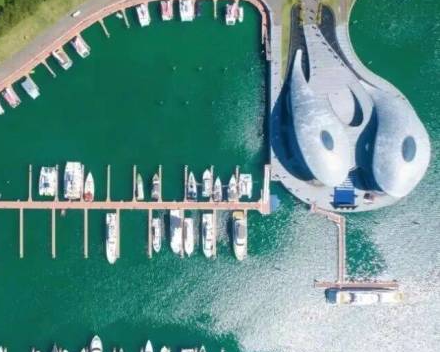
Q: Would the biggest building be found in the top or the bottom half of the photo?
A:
top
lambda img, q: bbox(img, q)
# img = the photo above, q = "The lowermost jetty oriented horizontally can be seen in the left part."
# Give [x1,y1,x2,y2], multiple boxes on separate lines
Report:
[0,163,270,259]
